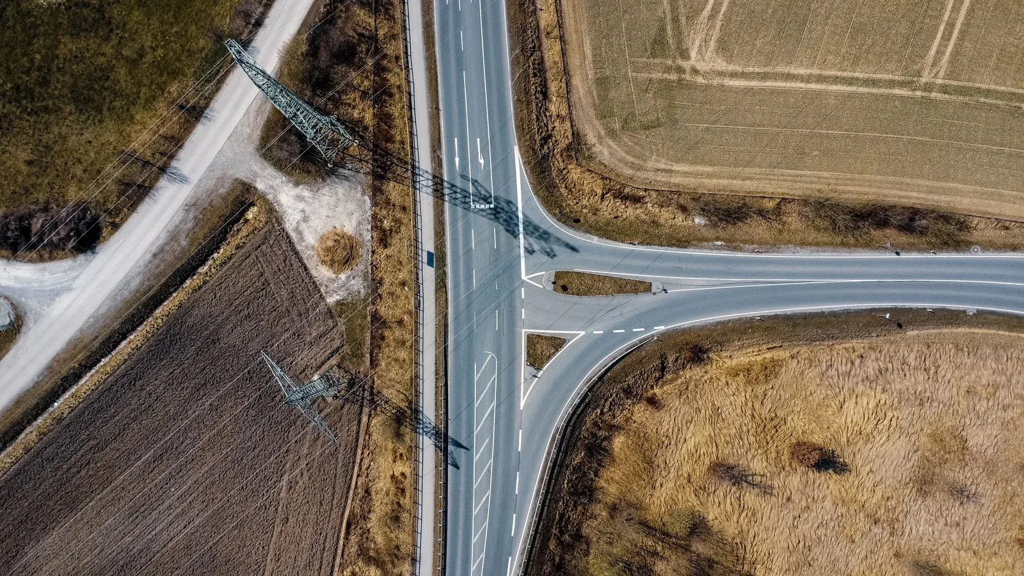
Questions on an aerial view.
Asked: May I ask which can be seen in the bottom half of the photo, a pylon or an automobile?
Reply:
pylon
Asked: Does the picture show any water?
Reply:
No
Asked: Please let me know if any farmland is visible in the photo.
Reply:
Yes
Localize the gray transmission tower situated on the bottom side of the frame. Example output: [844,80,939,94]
[259,352,351,443]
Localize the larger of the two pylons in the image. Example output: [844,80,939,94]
[219,38,359,168]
